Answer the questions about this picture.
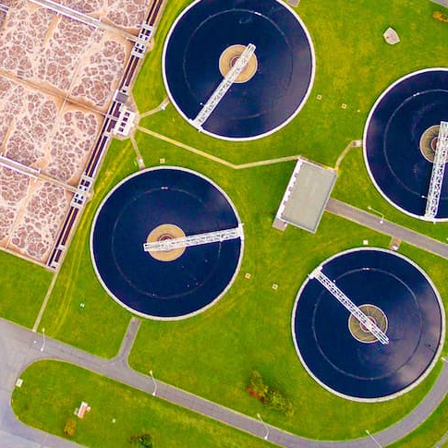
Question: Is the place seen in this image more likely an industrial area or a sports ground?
industrial area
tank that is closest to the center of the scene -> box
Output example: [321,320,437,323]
[89,165,244,320]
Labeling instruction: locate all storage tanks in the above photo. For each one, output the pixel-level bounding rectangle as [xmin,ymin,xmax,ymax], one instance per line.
[361,69,448,222]
[290,247,446,402]
[161,0,316,141]
[89,165,244,320]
